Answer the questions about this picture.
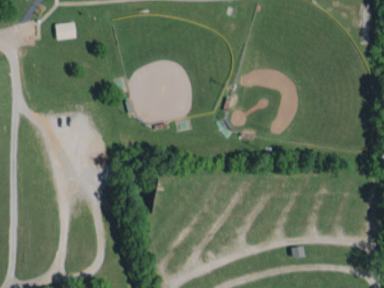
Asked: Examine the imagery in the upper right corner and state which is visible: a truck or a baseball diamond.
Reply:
baseball diamond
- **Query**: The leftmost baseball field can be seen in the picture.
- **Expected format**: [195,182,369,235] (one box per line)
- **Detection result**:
[114,15,232,124]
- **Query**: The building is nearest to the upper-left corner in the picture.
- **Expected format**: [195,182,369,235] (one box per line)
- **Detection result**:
[55,21,76,39]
